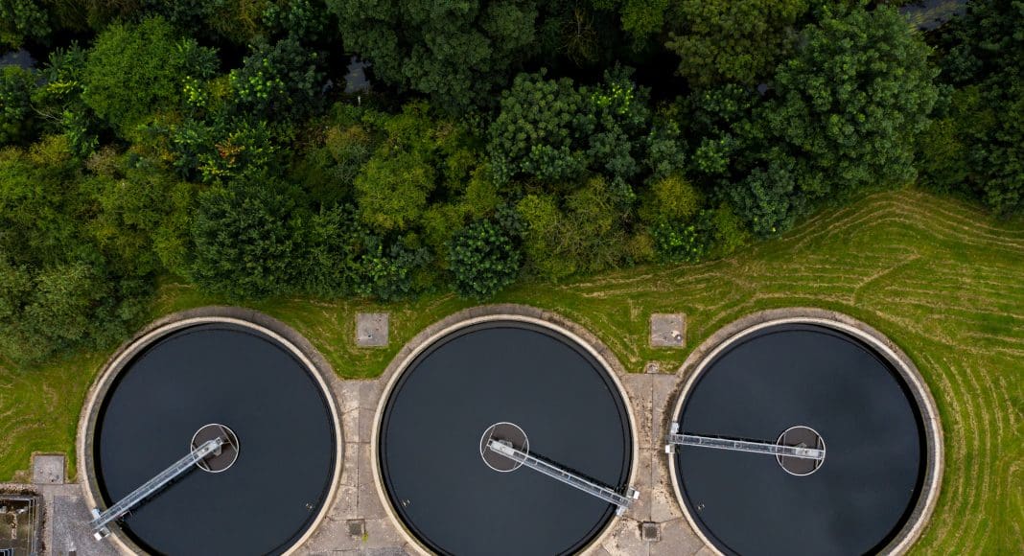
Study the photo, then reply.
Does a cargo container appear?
No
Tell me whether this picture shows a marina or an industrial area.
industrial area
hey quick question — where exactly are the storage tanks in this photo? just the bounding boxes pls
[79,319,343,556]
[372,317,639,556]
[669,318,940,556]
